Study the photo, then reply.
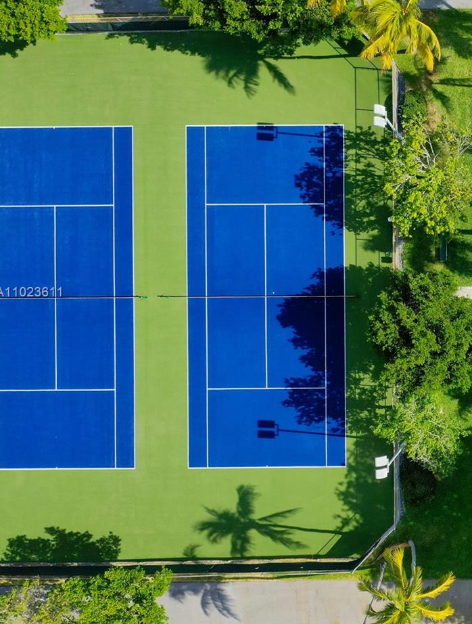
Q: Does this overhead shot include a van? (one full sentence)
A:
No, I can see no van in this picture.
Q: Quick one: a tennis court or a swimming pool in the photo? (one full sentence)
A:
Visible in the photo is a tennis court.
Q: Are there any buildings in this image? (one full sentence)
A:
No, there isn't any building down there.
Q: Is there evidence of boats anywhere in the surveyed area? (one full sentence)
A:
No, the picture doesn't show any boat.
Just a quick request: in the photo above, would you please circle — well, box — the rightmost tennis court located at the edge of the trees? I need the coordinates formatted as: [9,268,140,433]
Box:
[186,125,346,469]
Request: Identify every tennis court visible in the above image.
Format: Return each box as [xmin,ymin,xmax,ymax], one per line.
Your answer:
[0,126,136,470]
[186,125,346,469]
